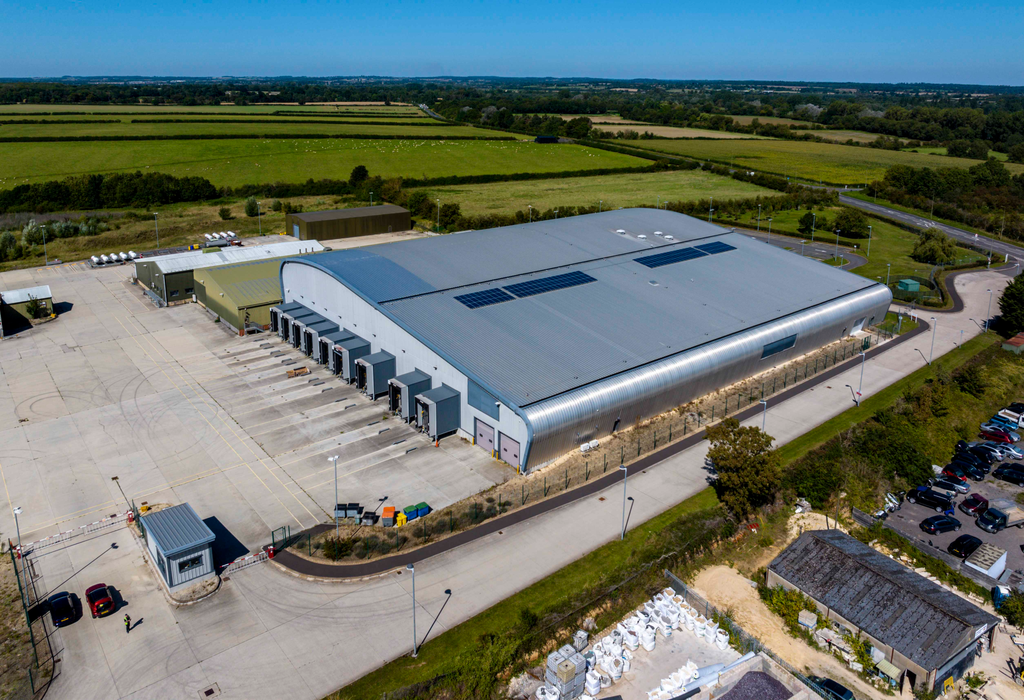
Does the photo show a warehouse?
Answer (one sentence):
Yes, there is a warehouse in the image.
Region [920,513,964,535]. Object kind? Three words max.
car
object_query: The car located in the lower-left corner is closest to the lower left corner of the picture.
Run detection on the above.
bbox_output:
[44,586,77,624]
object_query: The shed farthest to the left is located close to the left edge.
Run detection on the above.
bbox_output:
[0,285,53,322]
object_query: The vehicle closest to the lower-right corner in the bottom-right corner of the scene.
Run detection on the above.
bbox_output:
[1000,648,1024,683]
